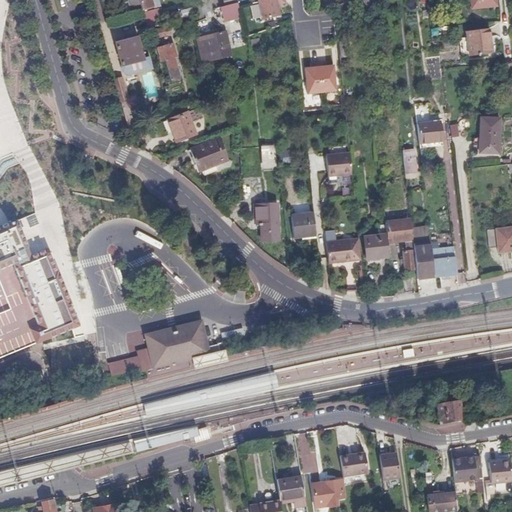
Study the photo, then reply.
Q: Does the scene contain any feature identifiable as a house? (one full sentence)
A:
Yes, there is a house in the image.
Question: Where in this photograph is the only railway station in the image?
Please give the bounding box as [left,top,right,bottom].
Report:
[0,318,512,486]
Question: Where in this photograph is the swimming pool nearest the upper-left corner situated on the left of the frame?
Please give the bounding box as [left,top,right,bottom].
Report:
[143,72,158,100]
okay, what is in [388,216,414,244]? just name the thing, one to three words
house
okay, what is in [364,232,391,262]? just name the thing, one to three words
house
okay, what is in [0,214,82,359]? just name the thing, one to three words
building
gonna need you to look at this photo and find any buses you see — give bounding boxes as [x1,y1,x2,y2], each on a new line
[135,228,164,250]
[172,272,196,294]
